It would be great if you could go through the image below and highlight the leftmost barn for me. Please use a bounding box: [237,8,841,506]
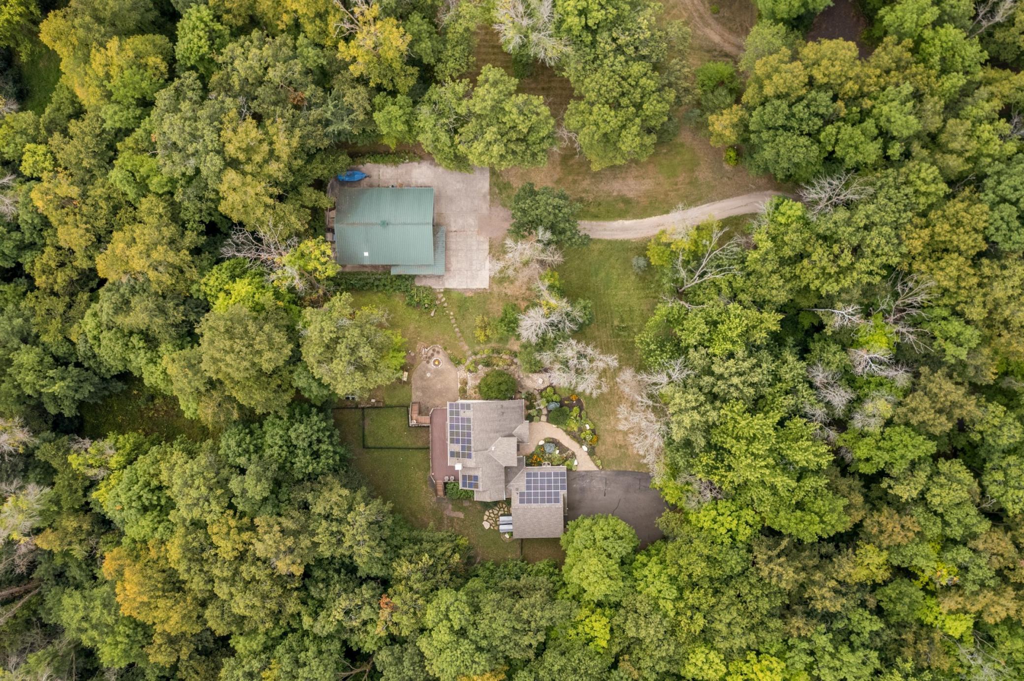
[334,187,446,275]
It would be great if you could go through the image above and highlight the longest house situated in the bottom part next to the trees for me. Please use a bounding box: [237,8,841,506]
[447,399,568,539]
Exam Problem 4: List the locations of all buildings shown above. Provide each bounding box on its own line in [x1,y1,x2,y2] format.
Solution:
[447,399,568,539]
[334,187,446,275]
